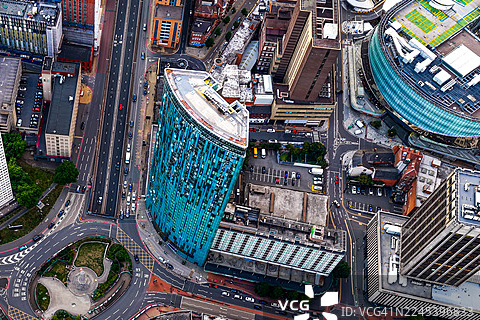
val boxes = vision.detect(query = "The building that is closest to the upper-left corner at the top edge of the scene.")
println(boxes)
[0,0,63,62]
